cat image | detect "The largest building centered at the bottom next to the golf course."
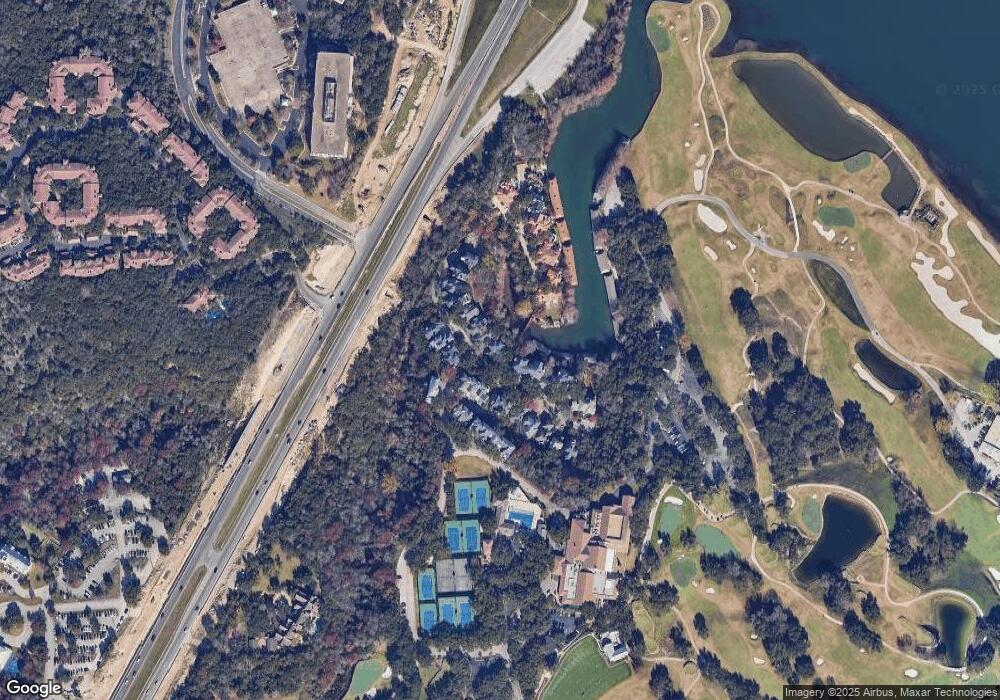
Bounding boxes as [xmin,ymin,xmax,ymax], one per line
[552,497,635,604]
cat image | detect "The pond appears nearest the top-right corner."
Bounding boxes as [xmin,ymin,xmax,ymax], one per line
[733,60,919,218]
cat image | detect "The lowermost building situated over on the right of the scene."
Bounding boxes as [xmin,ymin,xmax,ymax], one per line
[600,631,629,659]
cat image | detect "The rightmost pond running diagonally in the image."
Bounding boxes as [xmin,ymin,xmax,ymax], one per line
[854,339,922,391]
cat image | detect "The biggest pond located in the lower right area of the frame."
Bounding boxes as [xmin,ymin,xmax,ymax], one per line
[794,492,882,582]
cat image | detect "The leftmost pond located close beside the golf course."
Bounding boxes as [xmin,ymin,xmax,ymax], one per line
[527,0,661,356]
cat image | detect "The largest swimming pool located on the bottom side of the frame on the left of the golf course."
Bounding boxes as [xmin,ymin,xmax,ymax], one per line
[499,487,540,530]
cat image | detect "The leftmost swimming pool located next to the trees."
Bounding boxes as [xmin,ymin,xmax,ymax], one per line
[204,301,228,321]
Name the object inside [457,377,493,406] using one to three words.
house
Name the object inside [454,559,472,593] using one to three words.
tennis court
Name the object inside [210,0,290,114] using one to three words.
building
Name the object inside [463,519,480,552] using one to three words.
tennis court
